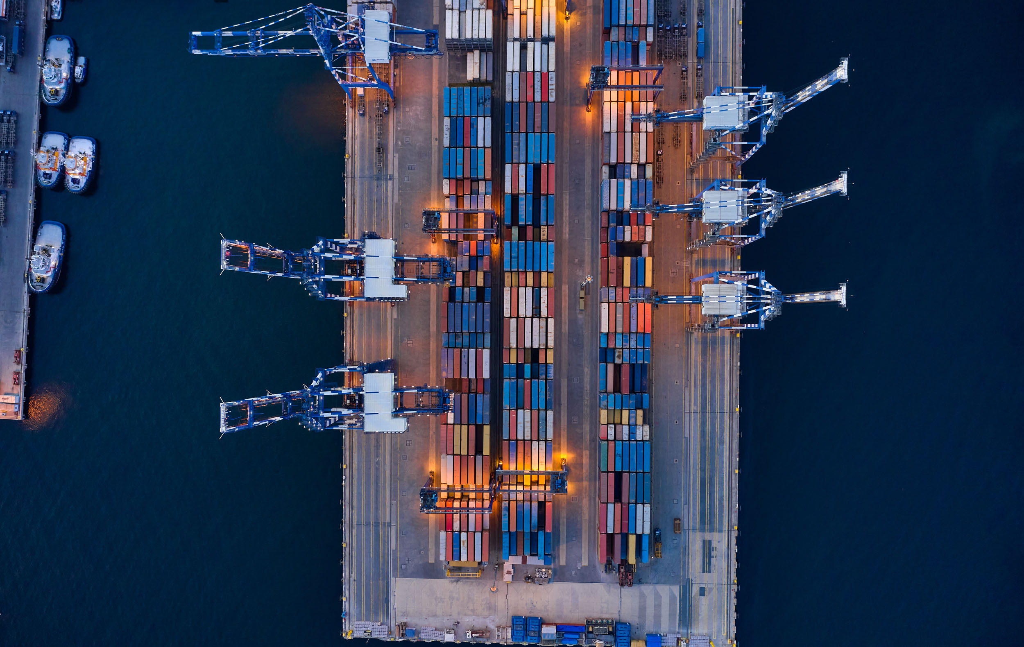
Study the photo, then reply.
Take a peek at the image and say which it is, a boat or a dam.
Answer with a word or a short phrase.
boat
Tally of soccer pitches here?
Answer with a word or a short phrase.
none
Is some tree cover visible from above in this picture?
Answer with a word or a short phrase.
No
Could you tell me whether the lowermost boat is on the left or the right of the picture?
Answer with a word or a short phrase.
left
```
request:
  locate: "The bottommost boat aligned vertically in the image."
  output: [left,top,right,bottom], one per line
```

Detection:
[27,219,67,293]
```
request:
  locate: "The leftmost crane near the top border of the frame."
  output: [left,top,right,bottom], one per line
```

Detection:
[188,0,448,110]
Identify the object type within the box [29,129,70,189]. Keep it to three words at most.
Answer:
boat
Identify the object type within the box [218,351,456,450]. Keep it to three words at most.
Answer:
container crane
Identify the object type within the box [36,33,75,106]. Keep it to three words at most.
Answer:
boat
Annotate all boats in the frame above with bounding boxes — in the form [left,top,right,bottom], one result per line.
[49,0,63,21]
[75,56,89,84]
[36,33,75,106]
[57,134,98,195]
[27,219,67,293]
[29,129,70,189]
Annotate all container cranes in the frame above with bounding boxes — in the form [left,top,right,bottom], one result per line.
[420,470,495,515]
[630,58,857,178]
[588,62,667,112]
[218,351,456,450]
[188,0,448,110]
[628,268,848,340]
[219,226,457,310]
[495,455,569,498]
[629,169,856,258]
[423,206,498,244]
